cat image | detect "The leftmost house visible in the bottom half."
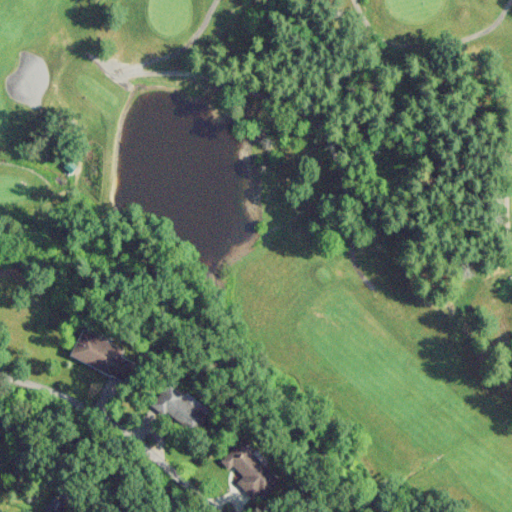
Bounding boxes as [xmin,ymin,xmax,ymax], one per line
[70,332,140,380]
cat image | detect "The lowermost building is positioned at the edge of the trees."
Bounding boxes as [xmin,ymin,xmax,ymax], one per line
[220,450,273,496]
